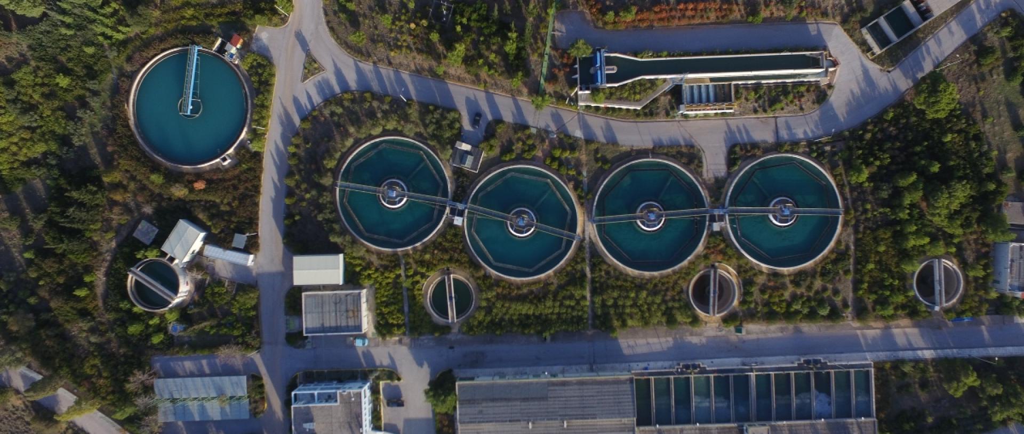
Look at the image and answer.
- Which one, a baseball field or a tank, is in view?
tank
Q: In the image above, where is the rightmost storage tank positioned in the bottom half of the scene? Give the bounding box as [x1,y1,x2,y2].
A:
[906,253,964,311]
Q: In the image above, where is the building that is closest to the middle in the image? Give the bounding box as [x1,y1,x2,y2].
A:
[452,141,484,173]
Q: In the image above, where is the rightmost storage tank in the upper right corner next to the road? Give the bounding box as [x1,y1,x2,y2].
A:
[858,0,963,60]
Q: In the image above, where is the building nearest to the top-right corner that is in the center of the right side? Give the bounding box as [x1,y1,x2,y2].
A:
[993,201,1024,229]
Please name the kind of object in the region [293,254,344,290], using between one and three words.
shed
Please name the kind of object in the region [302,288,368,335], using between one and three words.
building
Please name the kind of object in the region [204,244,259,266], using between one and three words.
building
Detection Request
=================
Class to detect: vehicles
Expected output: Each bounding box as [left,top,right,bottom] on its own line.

[354,338,369,346]
[387,399,404,408]
[473,113,482,129]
